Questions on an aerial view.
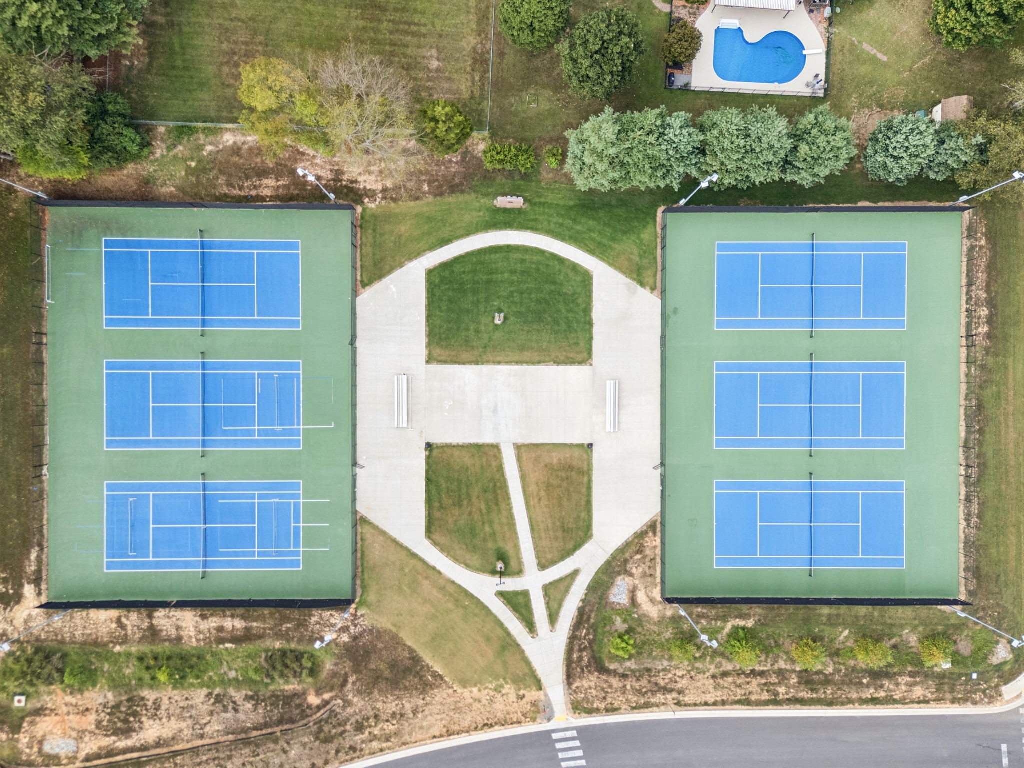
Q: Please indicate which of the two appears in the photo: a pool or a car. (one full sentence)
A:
Visible in the photo is a pool.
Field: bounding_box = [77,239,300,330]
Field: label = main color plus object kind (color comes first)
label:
blue tennis court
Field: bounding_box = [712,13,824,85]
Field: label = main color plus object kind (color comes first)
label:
blue swimming pool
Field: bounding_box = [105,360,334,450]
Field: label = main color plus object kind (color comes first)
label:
blue tennis court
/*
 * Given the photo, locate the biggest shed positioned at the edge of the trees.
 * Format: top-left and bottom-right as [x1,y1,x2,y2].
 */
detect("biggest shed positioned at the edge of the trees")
[933,94,974,130]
